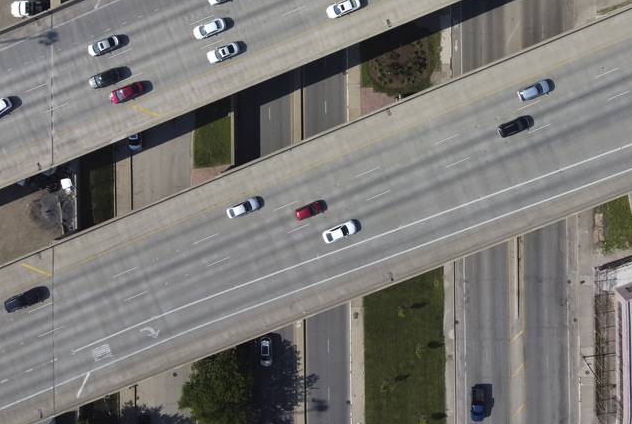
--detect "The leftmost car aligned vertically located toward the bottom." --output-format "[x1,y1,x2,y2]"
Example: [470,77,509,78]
[259,335,273,365]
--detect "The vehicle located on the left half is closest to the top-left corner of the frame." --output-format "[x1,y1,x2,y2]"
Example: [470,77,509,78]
[9,0,56,18]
